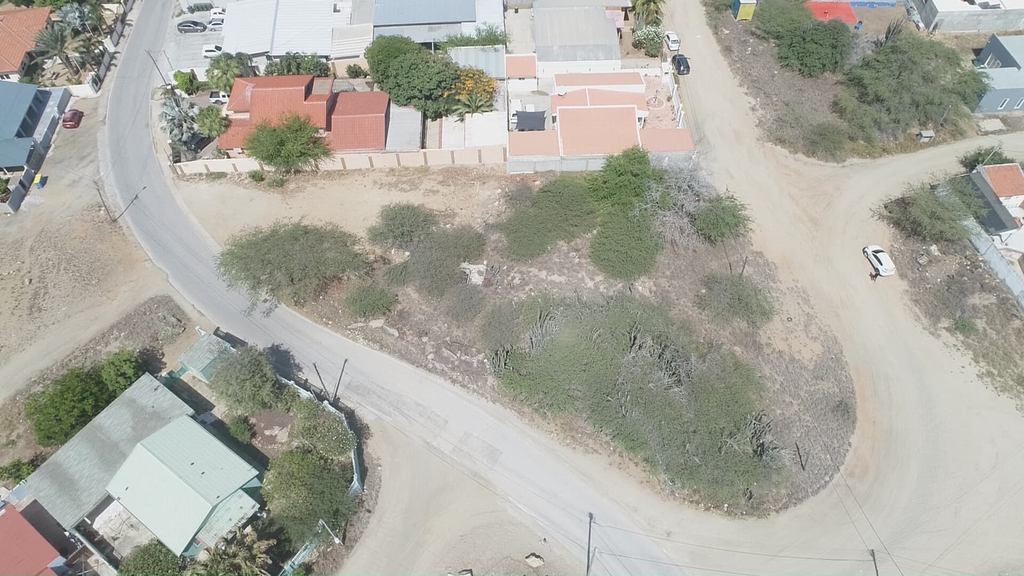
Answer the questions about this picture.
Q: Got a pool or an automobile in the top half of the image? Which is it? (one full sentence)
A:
What appears in the top half of the image is an automobile.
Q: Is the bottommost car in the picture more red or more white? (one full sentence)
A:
The bottommost car looks white in the image.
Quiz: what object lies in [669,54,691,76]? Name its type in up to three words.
car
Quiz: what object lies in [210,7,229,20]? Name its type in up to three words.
vehicle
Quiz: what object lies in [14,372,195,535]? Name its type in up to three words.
shed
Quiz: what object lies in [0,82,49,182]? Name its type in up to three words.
house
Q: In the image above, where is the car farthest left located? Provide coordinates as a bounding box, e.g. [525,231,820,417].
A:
[60,109,87,130]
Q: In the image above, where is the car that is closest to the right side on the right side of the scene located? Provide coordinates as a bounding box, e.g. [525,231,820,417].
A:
[862,247,895,276]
